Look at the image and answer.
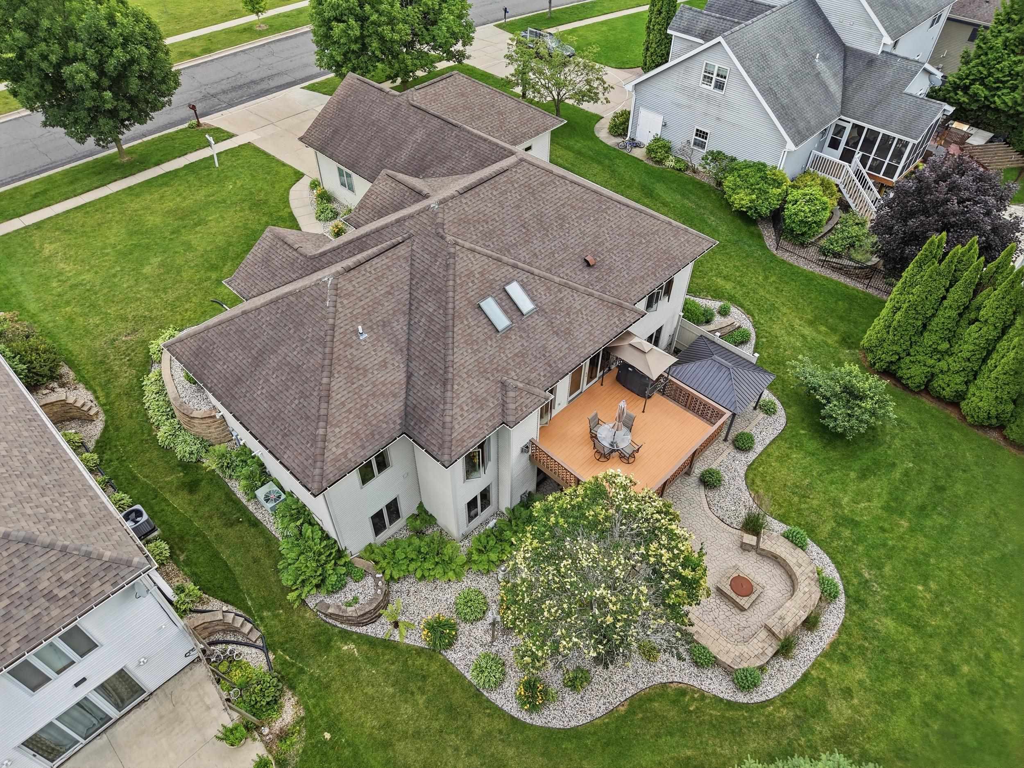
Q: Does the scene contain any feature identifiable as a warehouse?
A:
No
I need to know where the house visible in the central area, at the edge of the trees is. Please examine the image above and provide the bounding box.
[158,71,723,563]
